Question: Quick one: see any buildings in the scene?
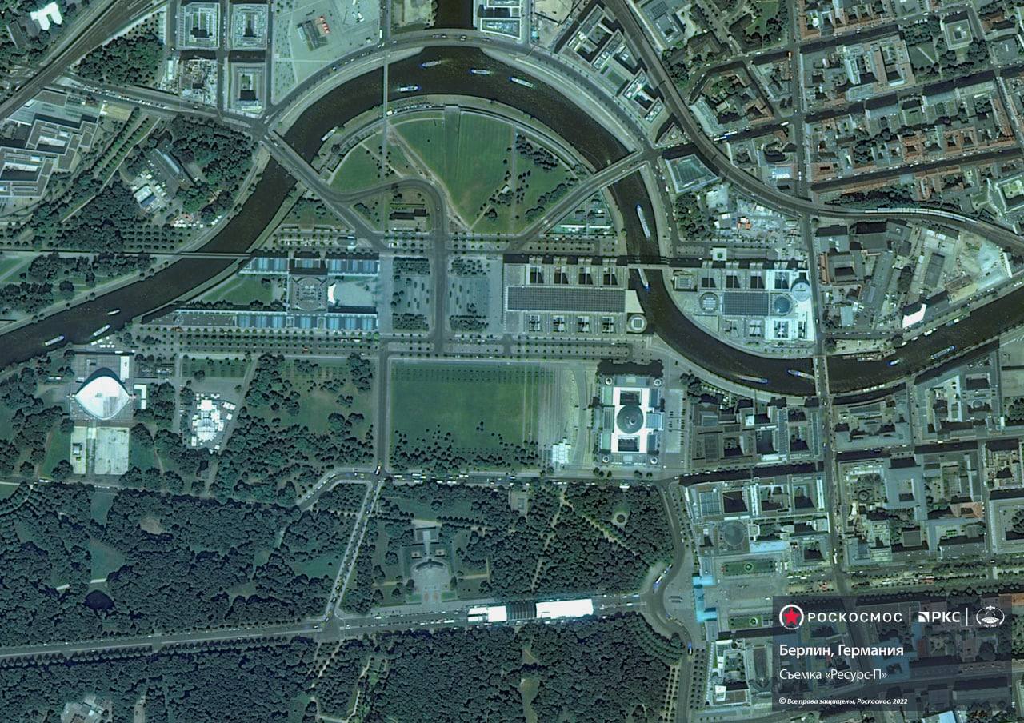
Yes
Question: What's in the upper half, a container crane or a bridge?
bridge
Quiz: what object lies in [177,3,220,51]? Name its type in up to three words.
building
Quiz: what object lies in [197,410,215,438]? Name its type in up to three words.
tent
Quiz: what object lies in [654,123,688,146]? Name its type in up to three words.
building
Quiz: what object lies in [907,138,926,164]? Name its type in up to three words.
house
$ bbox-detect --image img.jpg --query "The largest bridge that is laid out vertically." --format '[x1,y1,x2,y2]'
[813,350,828,404]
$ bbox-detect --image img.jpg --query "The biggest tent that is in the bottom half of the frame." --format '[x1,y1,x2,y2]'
[535,599,593,619]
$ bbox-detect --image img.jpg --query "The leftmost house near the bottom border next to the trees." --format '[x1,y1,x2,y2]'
[64,694,106,723]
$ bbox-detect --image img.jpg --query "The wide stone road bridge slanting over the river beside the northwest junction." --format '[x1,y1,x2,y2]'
[260,128,317,185]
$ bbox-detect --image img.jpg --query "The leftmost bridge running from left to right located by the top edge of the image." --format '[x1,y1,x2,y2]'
[422,27,482,48]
